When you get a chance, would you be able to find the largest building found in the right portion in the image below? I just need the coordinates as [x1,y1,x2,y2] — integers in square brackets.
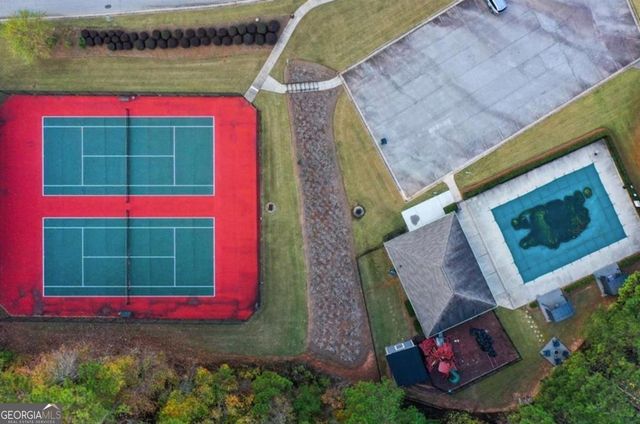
[384,212,498,338]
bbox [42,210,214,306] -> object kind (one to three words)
tennis court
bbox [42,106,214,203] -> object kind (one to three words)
tennis court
